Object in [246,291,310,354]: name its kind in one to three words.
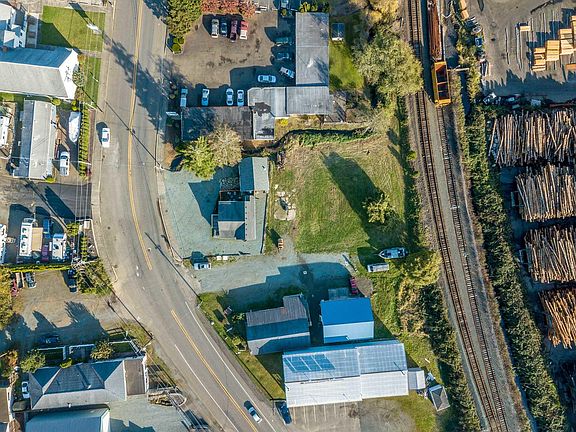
building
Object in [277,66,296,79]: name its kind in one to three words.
vehicle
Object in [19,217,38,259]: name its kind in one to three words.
camper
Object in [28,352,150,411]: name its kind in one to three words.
house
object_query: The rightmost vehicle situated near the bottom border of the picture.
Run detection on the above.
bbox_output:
[279,402,291,425]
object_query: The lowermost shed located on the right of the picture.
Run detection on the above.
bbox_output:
[427,382,451,412]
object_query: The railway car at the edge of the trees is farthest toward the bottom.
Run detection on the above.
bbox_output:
[430,62,452,109]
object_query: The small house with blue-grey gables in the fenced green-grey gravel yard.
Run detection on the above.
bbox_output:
[217,155,268,240]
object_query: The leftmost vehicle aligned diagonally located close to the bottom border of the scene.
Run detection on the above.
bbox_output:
[247,404,264,426]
